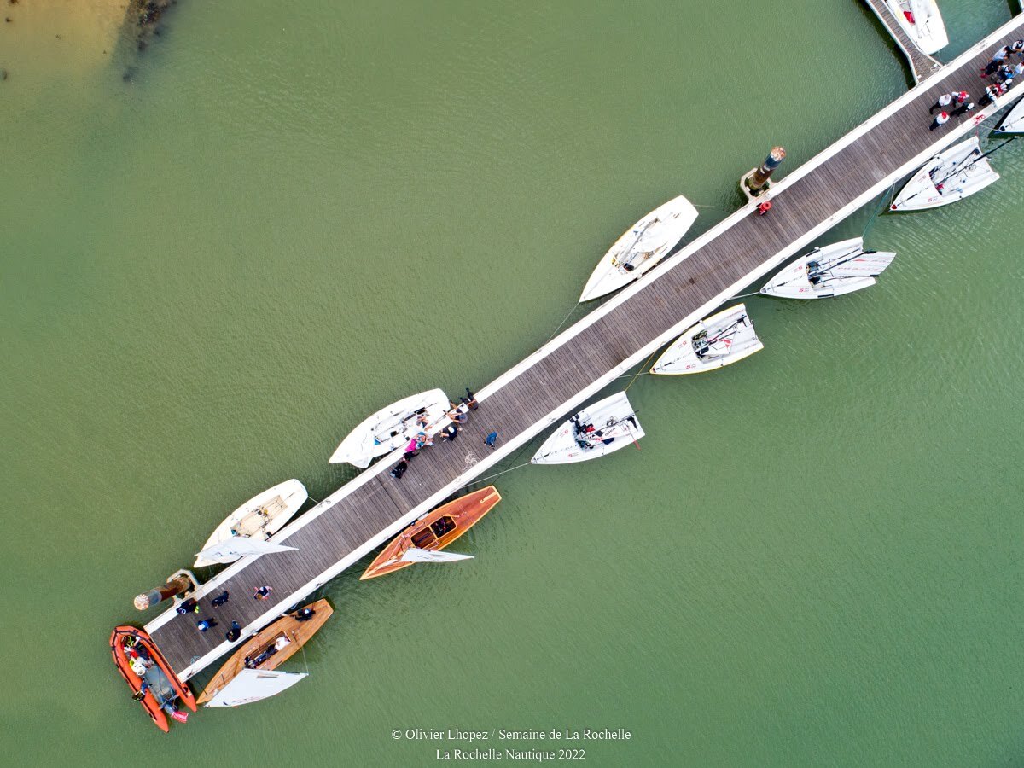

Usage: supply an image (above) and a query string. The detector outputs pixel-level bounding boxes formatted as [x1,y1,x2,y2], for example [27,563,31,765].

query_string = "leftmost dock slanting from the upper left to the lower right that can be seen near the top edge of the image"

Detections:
[864,0,945,86]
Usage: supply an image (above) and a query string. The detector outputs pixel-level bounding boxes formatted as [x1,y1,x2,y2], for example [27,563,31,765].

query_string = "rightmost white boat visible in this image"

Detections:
[998,98,1024,136]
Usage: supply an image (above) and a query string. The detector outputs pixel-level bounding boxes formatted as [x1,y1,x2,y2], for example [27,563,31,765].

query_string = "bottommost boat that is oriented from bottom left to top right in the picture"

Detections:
[197,598,335,706]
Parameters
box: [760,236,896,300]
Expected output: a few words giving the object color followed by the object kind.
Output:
white boat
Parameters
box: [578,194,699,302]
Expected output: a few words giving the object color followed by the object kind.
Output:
white boat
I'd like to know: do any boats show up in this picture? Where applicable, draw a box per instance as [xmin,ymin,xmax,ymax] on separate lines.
[760,236,896,300]
[578,194,699,302]
[197,598,335,706]
[530,391,645,465]
[194,480,311,568]
[328,389,451,467]
[649,303,764,376]
[112,626,196,732]
[889,135,1016,212]
[998,98,1024,136]
[359,485,501,580]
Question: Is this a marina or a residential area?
marina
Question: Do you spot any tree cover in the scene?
No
